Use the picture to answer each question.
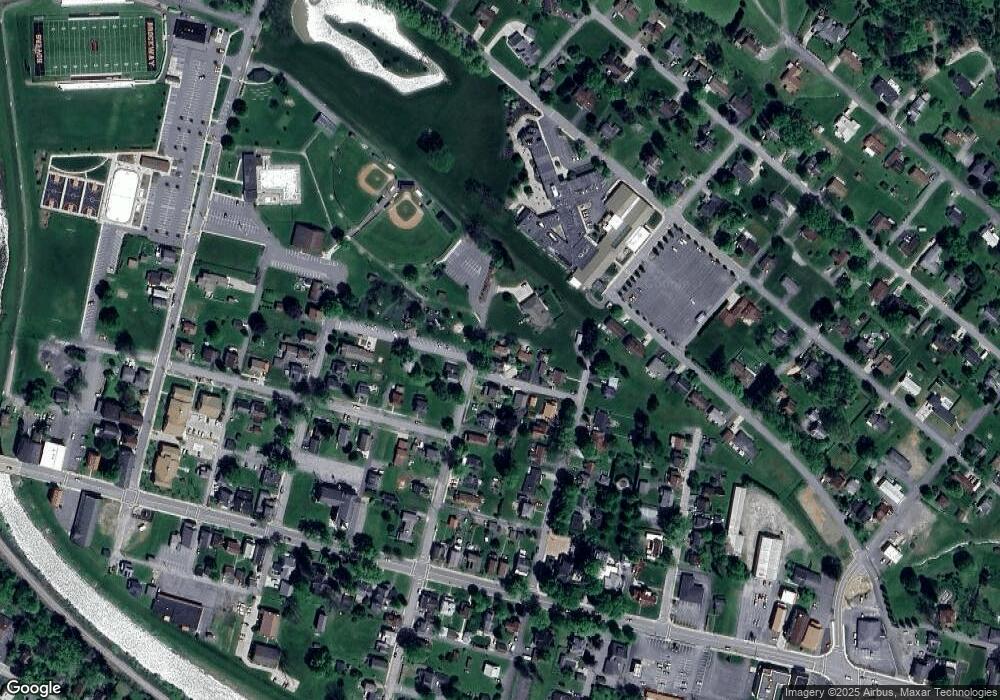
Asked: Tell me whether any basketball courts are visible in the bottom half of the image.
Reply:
No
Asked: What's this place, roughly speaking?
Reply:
residential area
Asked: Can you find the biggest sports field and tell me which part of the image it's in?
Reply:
top left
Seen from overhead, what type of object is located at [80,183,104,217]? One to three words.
basketball court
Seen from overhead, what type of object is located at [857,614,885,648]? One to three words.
gas station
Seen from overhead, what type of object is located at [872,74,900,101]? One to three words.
house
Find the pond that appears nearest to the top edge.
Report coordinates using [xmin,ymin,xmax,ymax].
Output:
[308,0,445,94]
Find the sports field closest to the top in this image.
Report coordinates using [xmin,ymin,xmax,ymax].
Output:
[26,13,162,82]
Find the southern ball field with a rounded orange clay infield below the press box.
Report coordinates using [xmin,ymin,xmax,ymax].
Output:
[357,191,444,266]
